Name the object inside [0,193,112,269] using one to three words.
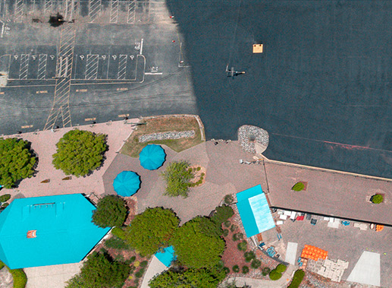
building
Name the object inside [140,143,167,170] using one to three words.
umbrella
